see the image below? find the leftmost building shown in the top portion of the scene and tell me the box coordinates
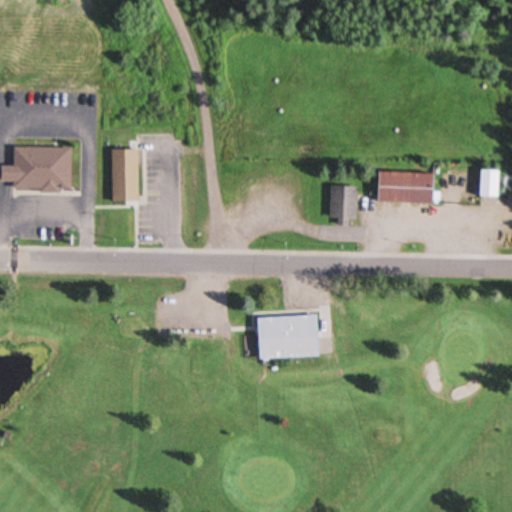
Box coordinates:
[0,146,72,190]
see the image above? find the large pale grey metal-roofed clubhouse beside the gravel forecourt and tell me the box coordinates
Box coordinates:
[246,314,320,365]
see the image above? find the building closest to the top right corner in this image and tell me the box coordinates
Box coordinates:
[480,168,501,198]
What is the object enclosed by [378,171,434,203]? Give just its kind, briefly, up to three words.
building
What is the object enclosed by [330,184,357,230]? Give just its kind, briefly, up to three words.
house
